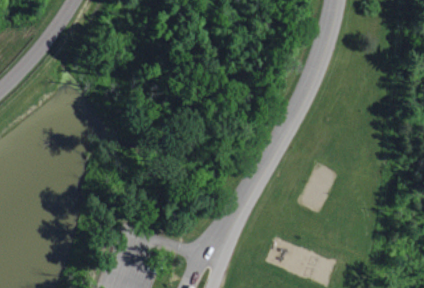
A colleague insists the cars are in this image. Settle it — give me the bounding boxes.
[204,247,214,260]
[190,272,198,286]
